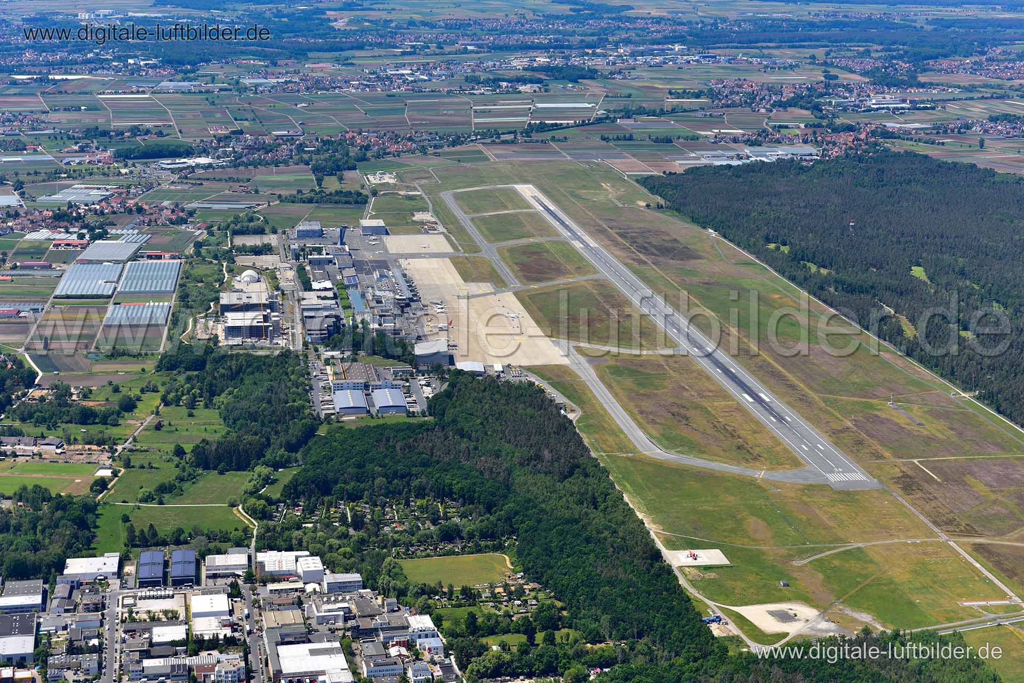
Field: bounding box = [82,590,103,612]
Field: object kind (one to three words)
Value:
house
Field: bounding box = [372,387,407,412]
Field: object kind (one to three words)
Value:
building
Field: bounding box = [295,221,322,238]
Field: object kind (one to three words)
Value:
hangar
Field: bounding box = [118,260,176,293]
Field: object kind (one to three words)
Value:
greenhouse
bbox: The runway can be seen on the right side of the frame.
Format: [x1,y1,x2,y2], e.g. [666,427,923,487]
[510,184,884,491]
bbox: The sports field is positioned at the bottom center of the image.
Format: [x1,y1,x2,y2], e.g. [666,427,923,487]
[398,555,511,590]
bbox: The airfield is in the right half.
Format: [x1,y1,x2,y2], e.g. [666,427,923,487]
[319,159,1024,683]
